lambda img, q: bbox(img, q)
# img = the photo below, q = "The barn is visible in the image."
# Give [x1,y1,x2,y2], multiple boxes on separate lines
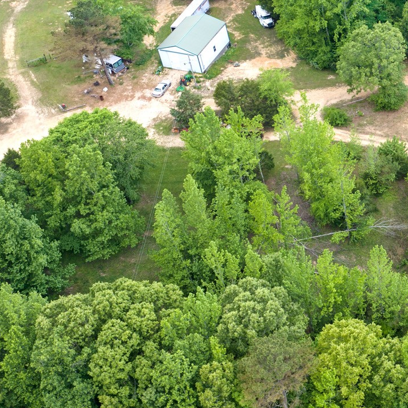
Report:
[156,13,229,73]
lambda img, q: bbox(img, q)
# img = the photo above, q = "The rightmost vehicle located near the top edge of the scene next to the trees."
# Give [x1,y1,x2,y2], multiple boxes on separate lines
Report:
[251,6,270,27]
